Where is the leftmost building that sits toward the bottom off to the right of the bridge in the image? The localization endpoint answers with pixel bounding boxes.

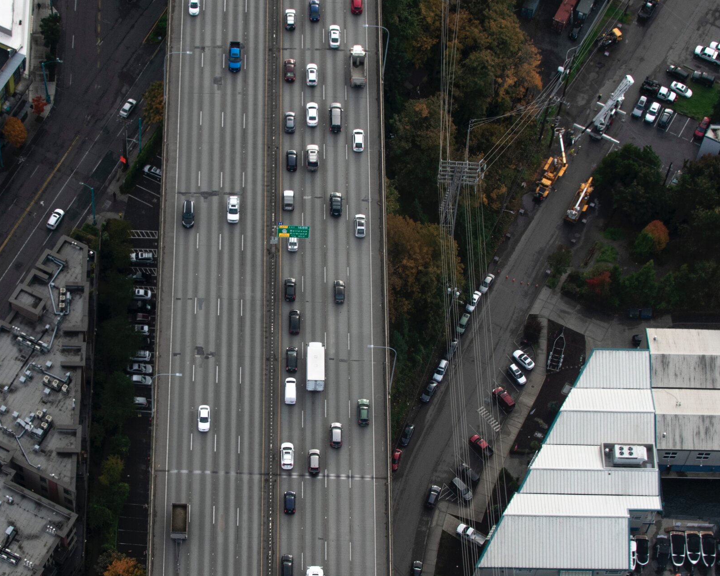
[474,348,662,576]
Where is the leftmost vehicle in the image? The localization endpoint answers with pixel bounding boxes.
[47,209,64,231]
